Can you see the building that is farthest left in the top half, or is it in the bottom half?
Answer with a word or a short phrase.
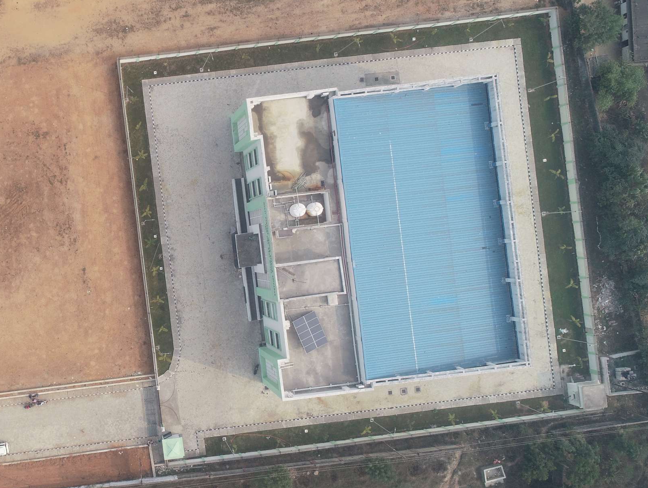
bottom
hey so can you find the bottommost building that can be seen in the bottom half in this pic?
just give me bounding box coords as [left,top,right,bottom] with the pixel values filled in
[162,427,185,461]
